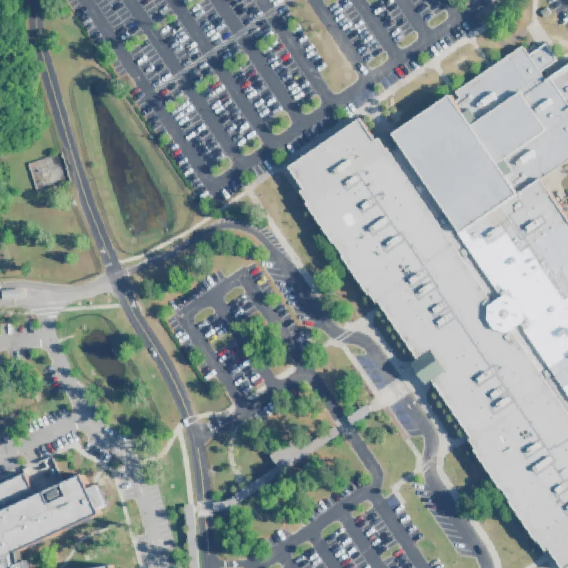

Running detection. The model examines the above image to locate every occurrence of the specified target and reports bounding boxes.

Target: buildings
[289,44,568,568]
[28,156,69,190]
[0,470,116,568]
